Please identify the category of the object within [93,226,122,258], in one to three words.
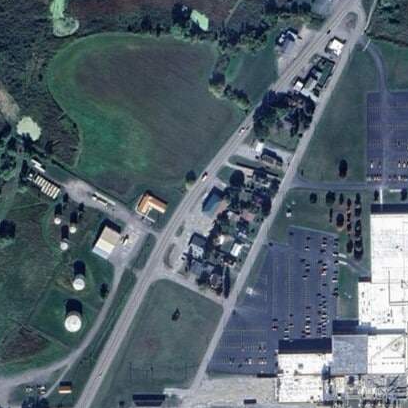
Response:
building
